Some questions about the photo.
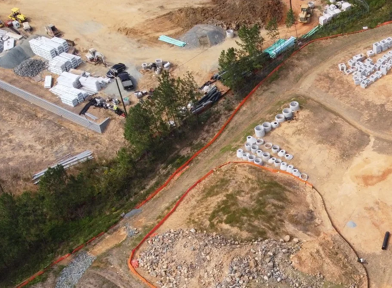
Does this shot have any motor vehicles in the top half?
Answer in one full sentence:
Yes, a motor vehicle can be seen in the top half.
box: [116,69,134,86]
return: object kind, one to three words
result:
vehicle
